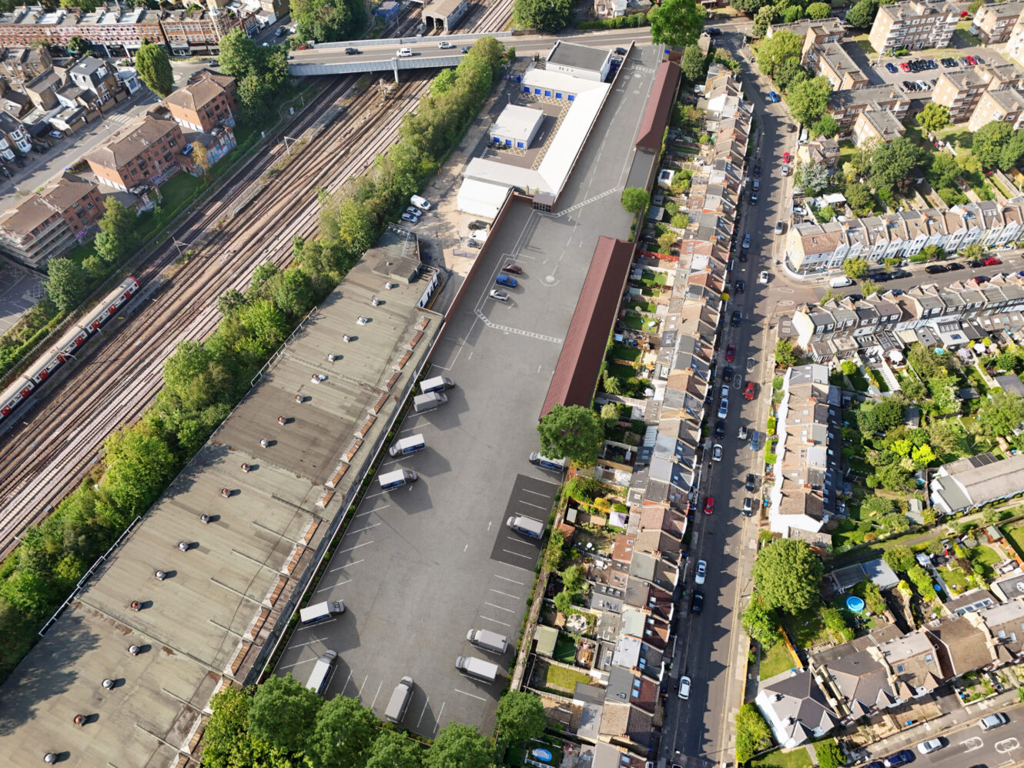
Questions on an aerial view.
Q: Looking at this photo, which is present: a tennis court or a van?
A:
van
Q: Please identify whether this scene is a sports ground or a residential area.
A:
residential area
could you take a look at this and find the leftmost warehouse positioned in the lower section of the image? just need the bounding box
[0,221,446,768]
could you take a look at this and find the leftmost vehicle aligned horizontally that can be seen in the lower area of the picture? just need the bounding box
[302,601,343,623]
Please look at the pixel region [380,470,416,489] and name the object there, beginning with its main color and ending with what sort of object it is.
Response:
white vehicle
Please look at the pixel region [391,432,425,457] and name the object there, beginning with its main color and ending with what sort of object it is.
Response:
white vehicle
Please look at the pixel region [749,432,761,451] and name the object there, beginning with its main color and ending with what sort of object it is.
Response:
blue vehicle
